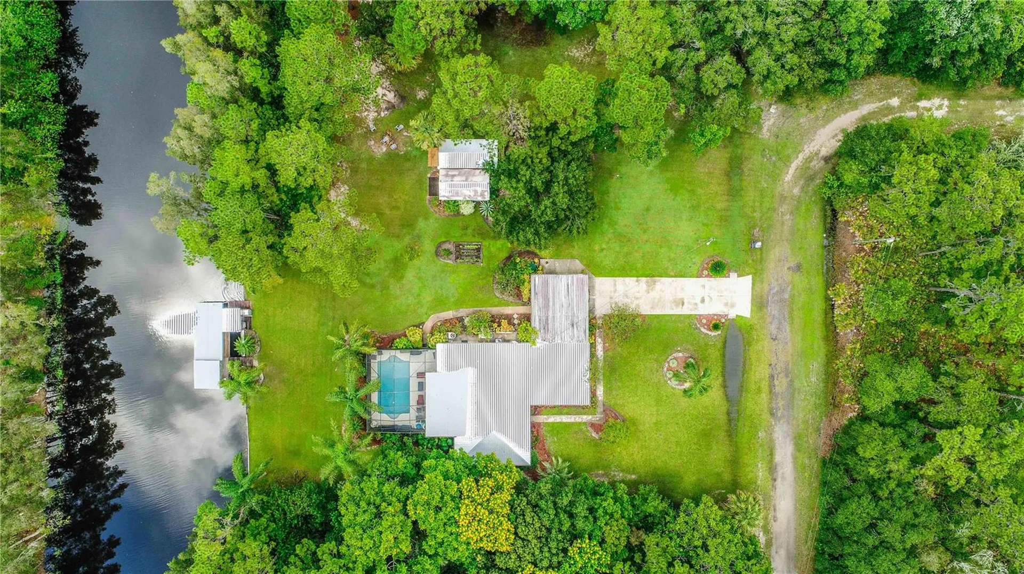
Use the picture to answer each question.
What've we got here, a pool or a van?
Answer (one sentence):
Looking from above, you can make out a pool.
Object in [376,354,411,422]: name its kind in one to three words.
swimming pool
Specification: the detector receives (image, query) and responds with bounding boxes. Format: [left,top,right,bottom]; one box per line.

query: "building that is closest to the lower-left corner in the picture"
[194,301,247,389]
